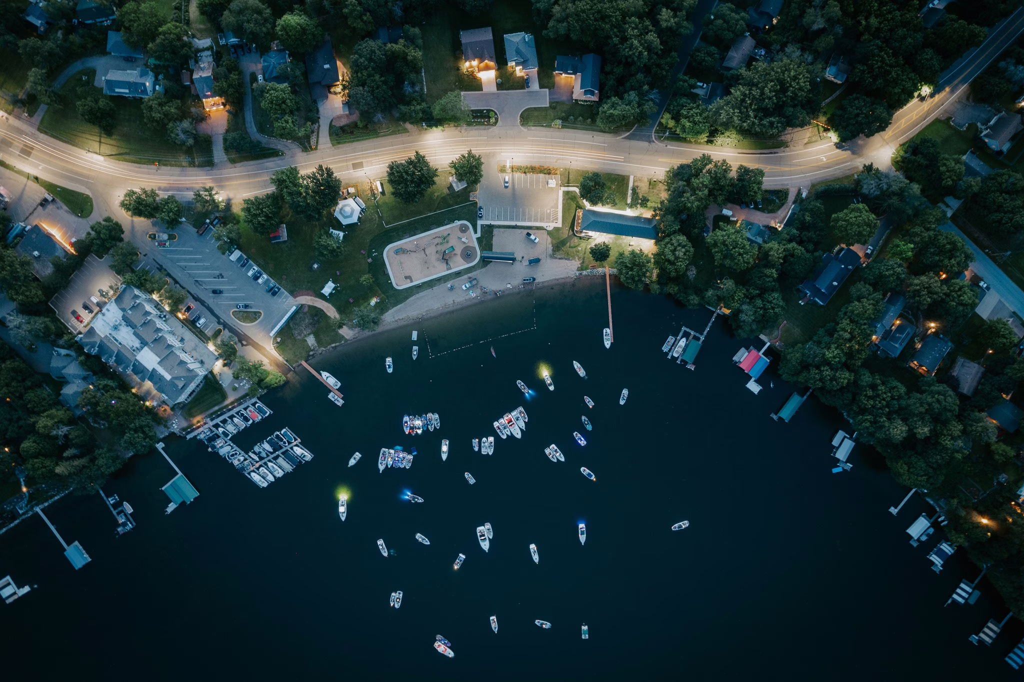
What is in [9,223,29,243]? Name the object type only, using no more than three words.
vehicle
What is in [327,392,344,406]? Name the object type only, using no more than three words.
boat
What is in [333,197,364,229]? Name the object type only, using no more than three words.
tent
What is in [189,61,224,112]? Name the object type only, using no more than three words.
house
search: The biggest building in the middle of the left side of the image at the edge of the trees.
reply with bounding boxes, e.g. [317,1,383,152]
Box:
[80,285,224,406]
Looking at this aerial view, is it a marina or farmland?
marina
